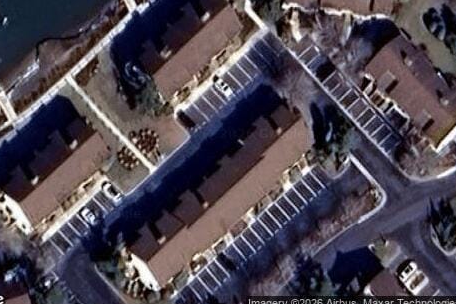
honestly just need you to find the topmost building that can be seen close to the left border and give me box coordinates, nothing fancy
[6,121,115,236]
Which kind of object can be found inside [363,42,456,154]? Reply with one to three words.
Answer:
building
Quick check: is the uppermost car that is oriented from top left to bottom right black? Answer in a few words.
No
